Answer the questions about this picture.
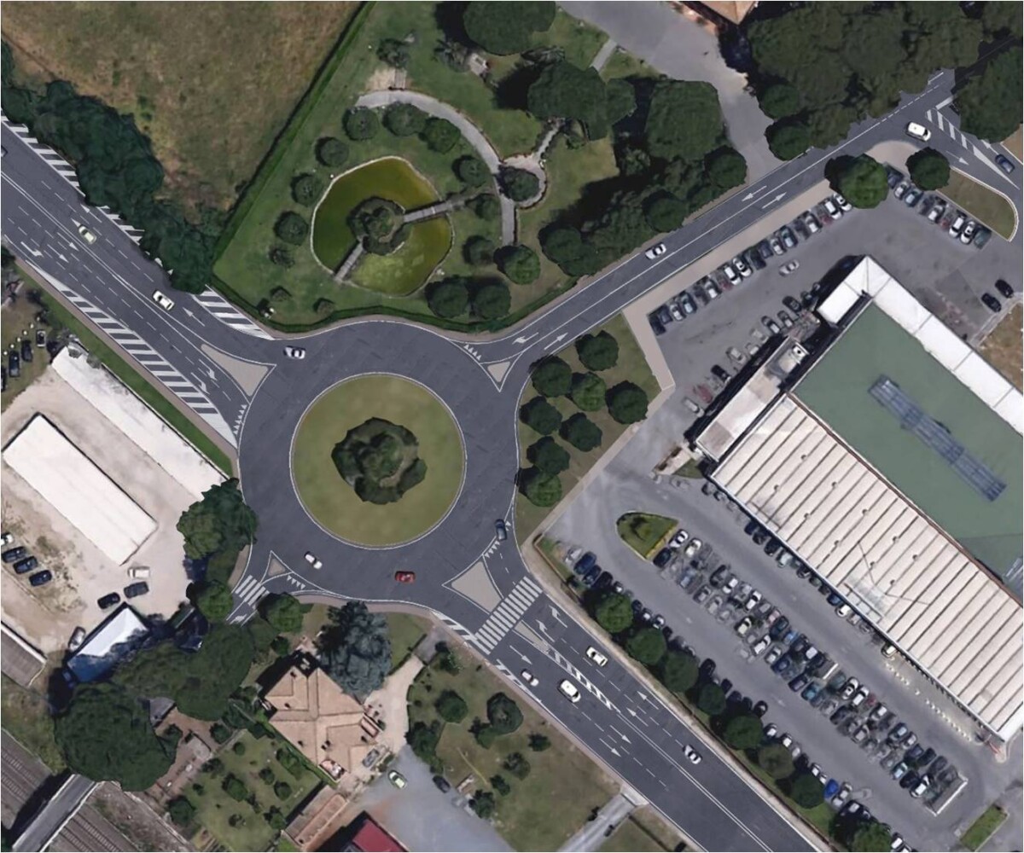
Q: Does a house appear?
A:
Yes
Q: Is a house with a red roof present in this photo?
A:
Yes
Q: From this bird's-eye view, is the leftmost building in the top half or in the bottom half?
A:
bottom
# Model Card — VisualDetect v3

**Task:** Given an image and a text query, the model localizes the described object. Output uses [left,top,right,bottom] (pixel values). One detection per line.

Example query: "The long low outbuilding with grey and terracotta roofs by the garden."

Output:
[285,786,349,849]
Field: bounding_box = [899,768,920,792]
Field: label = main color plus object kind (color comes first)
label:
black car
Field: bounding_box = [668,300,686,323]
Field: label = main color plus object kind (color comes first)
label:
gray car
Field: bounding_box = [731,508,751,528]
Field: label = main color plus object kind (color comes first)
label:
gray car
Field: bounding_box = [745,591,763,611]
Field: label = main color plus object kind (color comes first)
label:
white car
